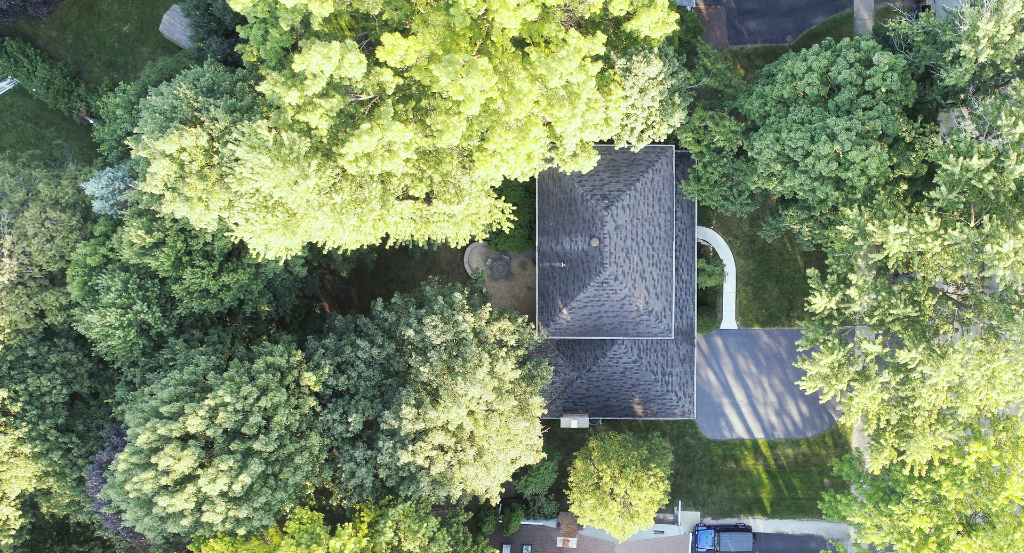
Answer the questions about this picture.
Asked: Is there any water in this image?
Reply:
No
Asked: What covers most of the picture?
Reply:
trees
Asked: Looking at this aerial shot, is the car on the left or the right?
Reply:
right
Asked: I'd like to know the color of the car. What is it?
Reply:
blue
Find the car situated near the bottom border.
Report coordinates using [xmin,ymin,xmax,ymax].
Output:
[689,522,754,553]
